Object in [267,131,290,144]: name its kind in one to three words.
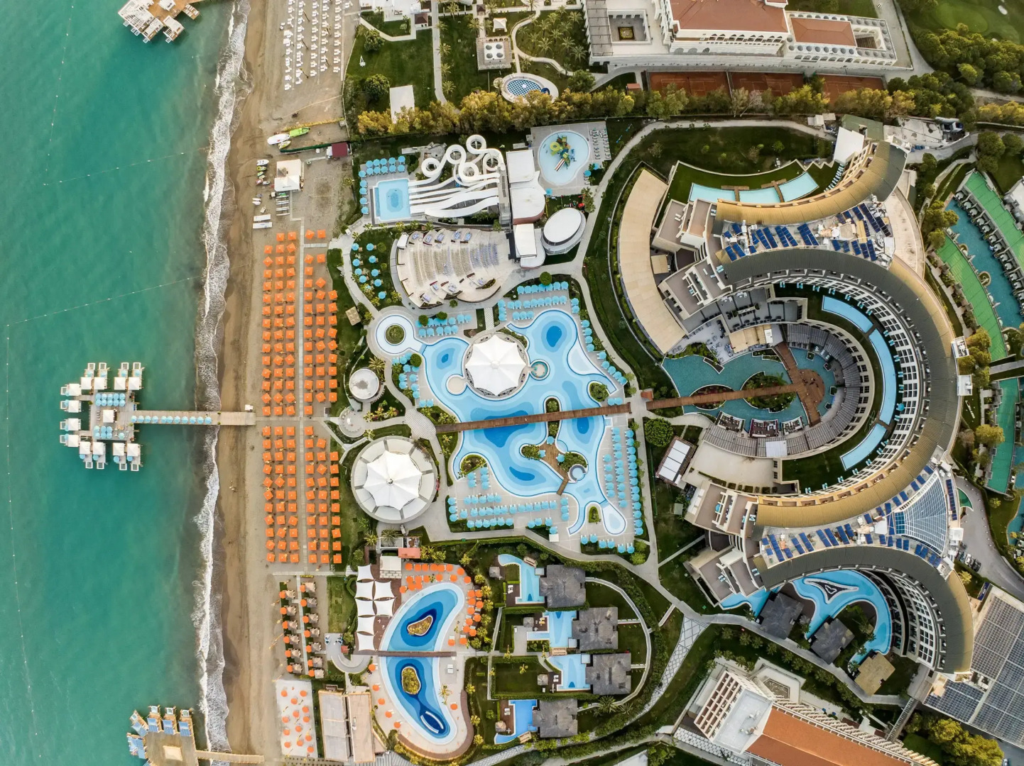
boat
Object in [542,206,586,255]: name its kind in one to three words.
building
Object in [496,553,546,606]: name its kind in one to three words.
swimming pool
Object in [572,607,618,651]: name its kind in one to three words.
house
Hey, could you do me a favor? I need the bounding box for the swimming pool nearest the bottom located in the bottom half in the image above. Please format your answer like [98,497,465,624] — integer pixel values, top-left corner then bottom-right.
[492,701,539,747]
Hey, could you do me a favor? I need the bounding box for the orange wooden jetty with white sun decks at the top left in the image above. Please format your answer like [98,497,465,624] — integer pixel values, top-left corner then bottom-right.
[137,0,202,41]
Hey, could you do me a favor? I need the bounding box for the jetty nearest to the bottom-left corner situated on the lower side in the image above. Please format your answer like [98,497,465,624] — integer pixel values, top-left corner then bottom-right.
[144,732,265,766]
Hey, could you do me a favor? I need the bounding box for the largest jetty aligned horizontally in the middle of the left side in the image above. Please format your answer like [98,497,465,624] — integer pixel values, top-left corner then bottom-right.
[74,389,256,444]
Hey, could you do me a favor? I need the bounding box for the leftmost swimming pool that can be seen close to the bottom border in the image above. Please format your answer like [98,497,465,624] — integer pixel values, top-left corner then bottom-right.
[376,580,467,748]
